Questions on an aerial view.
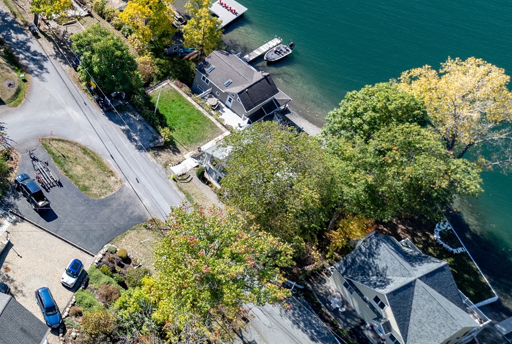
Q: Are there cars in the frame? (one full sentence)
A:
Yes, looking at the shot, I can spot a car.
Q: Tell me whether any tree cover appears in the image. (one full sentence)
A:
Yes, the picture does contain tree cover.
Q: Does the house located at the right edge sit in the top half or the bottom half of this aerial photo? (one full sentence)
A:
The house located at the right edge is in the bottom half of the image.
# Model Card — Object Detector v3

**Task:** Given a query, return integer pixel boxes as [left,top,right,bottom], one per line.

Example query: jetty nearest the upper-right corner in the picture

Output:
[242,34,283,63]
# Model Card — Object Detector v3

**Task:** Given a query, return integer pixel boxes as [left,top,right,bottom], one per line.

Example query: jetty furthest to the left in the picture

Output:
[208,0,248,34]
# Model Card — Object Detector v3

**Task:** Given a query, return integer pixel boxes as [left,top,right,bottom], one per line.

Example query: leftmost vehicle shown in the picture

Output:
[0,272,14,294]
